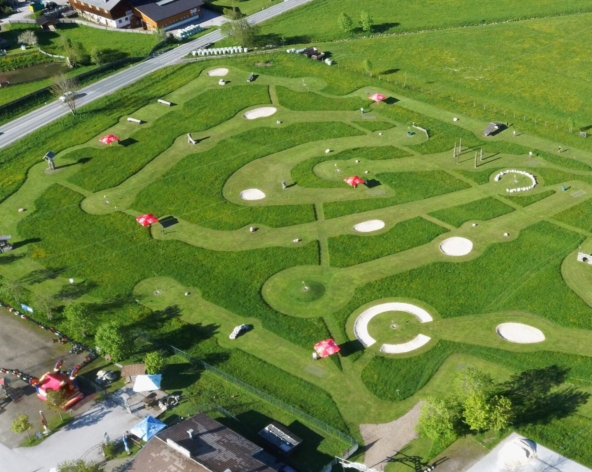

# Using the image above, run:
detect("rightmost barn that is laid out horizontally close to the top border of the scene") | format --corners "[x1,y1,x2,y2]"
[118,0,198,32]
